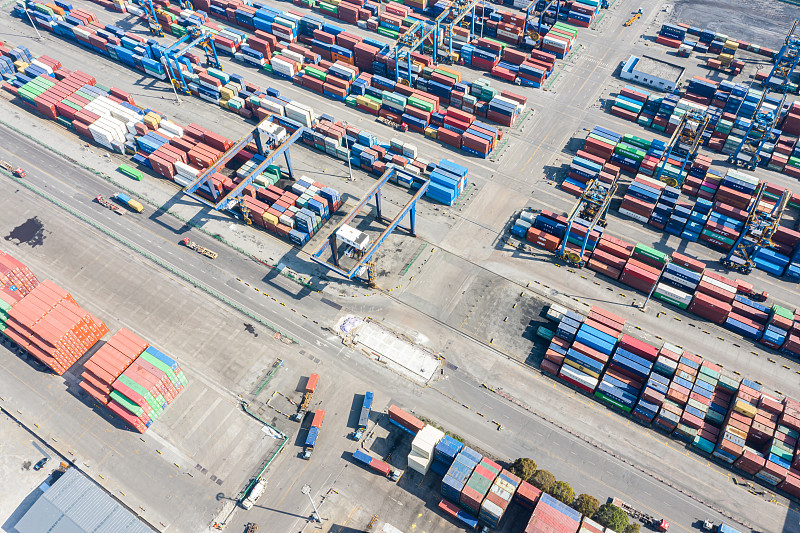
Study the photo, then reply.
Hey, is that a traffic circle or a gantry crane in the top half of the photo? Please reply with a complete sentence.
The feature located in the top half of the photo is a gantry crane.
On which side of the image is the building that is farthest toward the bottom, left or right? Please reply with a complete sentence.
The building that is farthest toward the bottom is on the left side of the image.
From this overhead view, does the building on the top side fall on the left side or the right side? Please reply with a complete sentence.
The building on the top side appears in the right half of the scene.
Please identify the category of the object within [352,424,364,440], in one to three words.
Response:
vehicle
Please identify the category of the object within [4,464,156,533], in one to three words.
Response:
building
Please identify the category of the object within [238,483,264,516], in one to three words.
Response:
truck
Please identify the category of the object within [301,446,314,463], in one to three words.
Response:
vehicle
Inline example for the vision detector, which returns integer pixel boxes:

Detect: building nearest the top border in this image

[620,52,686,94]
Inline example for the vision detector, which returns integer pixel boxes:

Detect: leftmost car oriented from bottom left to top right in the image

[34,458,50,472]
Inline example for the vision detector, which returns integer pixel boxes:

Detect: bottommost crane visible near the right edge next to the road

[719,179,789,274]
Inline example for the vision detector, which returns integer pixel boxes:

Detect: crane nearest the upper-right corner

[766,20,800,90]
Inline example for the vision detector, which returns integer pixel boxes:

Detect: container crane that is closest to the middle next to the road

[308,164,434,290]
